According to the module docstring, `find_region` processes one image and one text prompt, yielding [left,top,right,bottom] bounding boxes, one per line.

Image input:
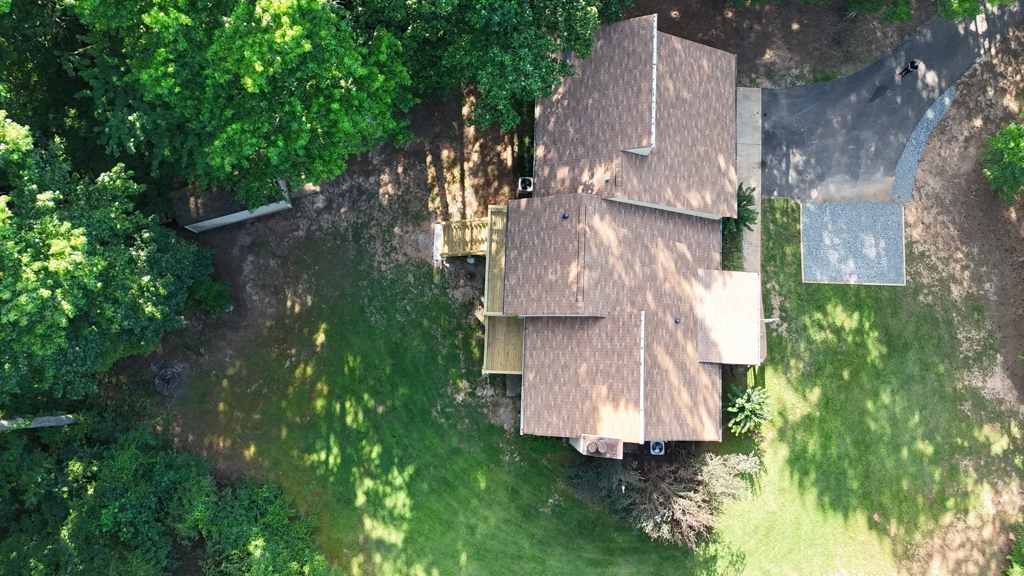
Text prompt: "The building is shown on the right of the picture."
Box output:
[501,16,761,458]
